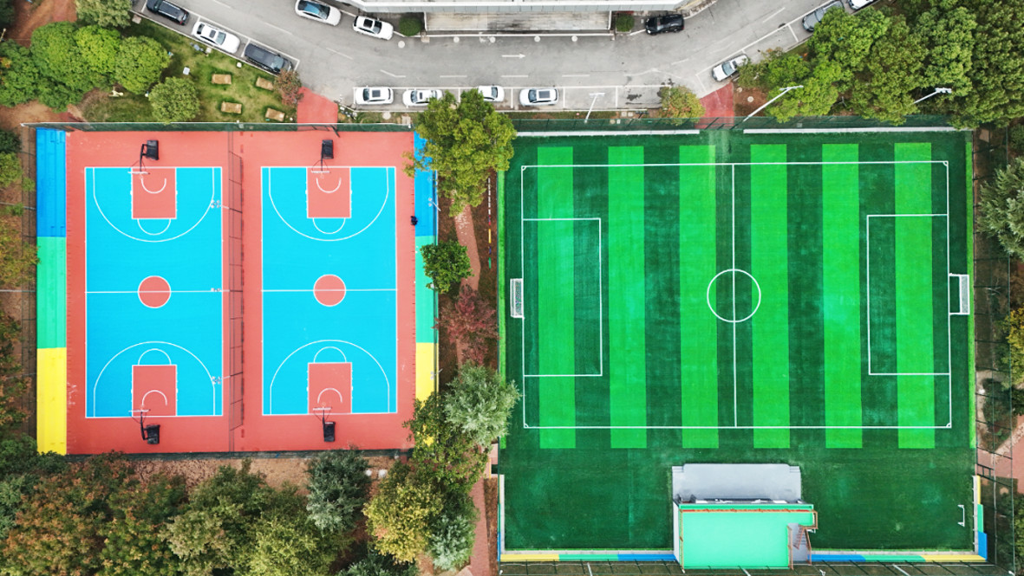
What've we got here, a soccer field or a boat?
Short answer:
soccer field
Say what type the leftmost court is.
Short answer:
basketball court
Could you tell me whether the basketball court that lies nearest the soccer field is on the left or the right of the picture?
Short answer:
left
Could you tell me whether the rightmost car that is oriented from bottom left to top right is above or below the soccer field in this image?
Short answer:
above it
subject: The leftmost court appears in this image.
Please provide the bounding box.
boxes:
[66,132,242,454]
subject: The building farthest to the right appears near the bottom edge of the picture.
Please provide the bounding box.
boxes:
[673,494,817,572]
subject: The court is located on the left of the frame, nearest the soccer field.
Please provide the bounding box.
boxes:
[242,132,415,452]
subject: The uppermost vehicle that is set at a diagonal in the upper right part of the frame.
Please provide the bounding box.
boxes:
[801,0,844,33]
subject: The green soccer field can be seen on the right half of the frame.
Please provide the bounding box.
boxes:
[499,128,977,556]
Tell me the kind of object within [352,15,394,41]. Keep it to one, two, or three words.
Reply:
car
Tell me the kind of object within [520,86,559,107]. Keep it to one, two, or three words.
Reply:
car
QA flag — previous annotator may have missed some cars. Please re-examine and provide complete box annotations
[295,0,341,27]
[244,41,293,74]
[643,13,686,36]
[709,52,752,84]
[352,15,394,41]
[801,0,844,33]
[355,84,395,105]
[403,87,443,107]
[520,86,559,107]
[192,21,240,53]
[466,83,506,104]
[145,0,192,27]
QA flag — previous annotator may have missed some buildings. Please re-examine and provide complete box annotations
[342,0,689,12]
[673,494,817,572]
